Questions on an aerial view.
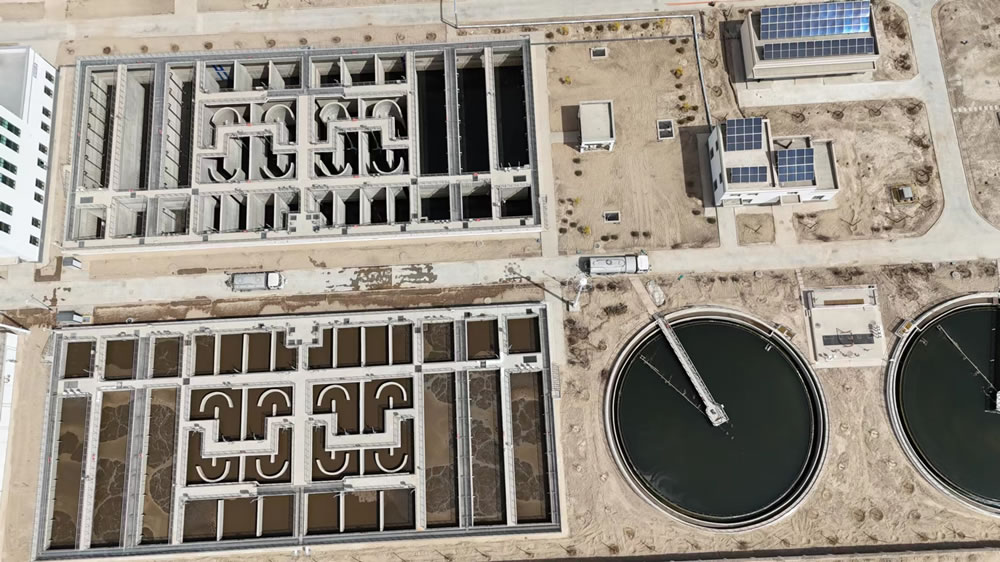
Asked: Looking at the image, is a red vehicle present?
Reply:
No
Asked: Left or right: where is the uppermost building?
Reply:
right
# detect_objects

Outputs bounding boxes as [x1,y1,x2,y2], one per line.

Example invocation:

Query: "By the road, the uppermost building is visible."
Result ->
[740,0,886,79]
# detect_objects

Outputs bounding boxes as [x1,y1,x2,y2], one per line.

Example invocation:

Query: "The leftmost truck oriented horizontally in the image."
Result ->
[229,269,286,290]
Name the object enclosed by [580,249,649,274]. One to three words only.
truck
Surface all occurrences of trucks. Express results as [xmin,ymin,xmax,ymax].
[229,269,286,290]
[580,249,649,274]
